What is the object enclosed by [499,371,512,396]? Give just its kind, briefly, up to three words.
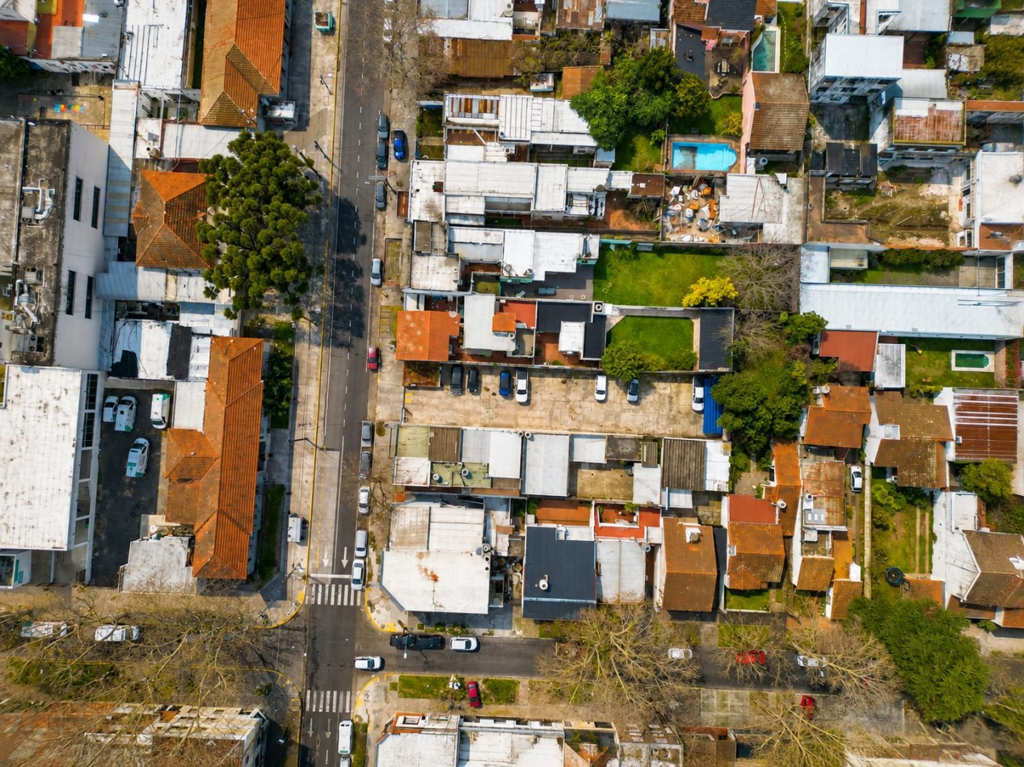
vehicle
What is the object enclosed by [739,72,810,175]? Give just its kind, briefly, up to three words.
house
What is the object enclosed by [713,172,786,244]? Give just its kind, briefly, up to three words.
building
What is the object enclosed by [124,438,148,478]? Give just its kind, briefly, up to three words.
vehicle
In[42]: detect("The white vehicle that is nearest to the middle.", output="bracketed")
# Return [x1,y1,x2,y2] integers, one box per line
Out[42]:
[517,370,531,403]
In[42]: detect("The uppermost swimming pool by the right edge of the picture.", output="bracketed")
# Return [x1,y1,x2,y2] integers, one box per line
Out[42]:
[954,349,996,372]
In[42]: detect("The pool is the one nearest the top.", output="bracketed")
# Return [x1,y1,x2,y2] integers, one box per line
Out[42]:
[750,23,782,73]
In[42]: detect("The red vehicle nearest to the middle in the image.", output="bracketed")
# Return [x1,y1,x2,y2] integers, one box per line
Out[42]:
[366,346,379,371]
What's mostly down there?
buildings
